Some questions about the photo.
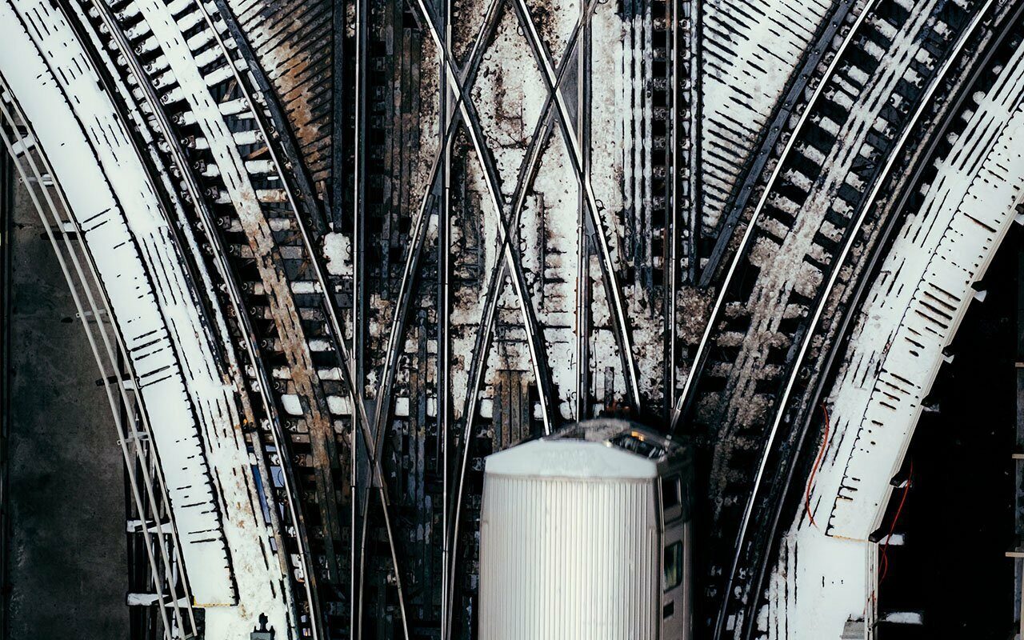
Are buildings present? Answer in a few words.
No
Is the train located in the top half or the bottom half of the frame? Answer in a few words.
bottom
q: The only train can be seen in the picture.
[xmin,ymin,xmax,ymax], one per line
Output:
[479,418,695,640]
